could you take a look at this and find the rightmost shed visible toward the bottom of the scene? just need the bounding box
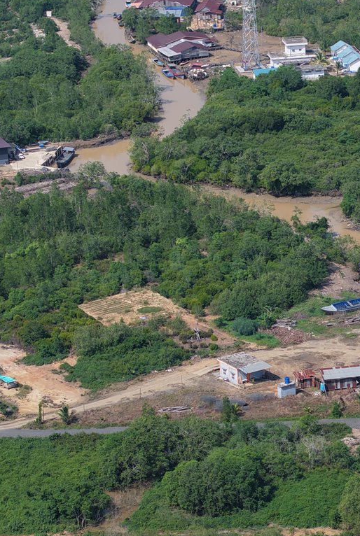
[316,362,360,391]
